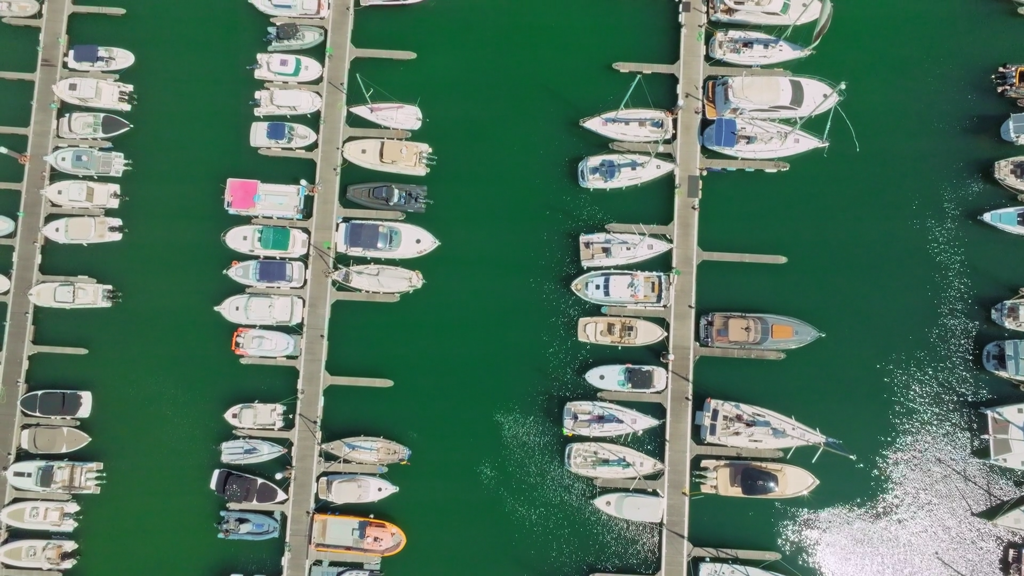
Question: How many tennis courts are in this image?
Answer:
zero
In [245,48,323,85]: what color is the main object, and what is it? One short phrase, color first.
white boat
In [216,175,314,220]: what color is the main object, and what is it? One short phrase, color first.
white ship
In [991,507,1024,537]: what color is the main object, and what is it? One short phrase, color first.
white boat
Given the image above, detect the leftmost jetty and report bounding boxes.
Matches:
[0,0,129,576]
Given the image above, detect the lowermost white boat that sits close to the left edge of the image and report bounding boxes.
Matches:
[0,539,90,568]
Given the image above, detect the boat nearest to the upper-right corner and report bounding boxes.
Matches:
[988,67,1024,97]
